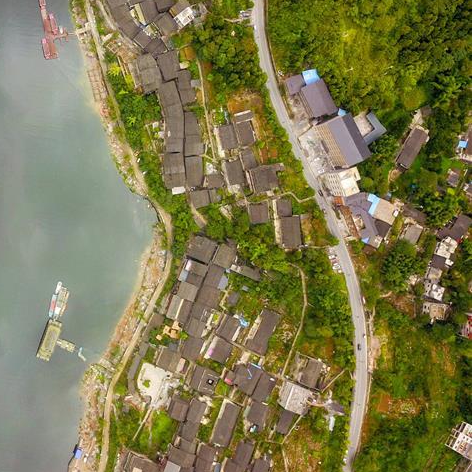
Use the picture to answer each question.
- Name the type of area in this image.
residential area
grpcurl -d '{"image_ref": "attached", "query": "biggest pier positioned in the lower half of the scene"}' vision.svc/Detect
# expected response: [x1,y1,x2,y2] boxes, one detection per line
[37,320,62,361]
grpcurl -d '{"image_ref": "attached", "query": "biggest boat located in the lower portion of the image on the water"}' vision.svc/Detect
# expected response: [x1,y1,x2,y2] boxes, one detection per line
[52,288,64,320]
